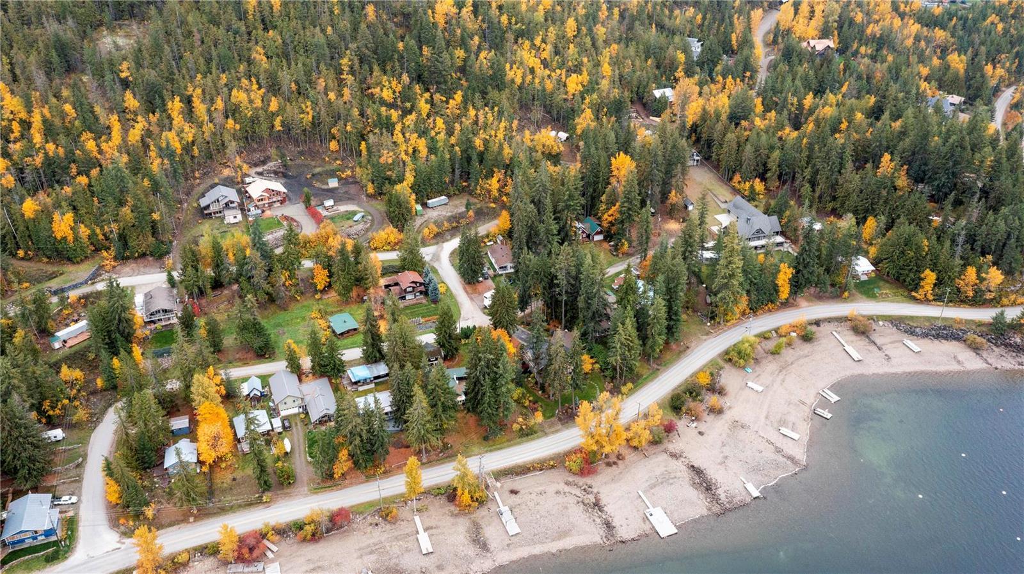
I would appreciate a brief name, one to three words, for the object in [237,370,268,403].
building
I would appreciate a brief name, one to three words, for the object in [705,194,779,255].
house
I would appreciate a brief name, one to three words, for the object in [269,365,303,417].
building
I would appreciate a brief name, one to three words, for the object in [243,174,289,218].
house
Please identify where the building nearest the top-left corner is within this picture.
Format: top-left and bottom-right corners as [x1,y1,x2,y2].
[196,176,242,222]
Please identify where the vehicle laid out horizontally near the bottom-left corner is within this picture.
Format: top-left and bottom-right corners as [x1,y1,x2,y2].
[54,493,78,506]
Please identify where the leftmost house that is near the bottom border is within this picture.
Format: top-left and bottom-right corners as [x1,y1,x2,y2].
[0,486,66,561]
